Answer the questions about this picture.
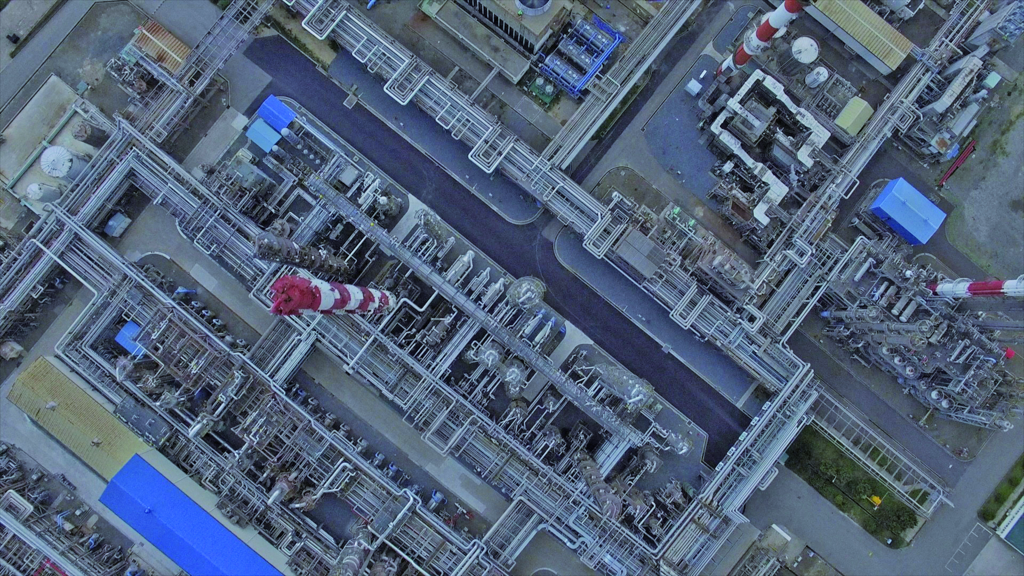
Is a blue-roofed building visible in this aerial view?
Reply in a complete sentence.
Yes, a blue-roofed building is visible in the scene.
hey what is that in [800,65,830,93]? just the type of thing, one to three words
storage tank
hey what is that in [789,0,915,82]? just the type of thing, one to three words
building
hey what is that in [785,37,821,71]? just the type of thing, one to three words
storage tank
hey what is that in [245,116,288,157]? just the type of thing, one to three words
shed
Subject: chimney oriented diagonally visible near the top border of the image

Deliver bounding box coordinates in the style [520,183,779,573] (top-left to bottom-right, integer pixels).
[710,0,810,79]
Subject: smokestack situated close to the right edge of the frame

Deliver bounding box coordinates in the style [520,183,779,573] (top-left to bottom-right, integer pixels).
[924,278,1024,301]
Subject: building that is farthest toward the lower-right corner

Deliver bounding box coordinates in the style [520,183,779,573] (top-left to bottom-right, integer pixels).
[991,519,1024,562]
